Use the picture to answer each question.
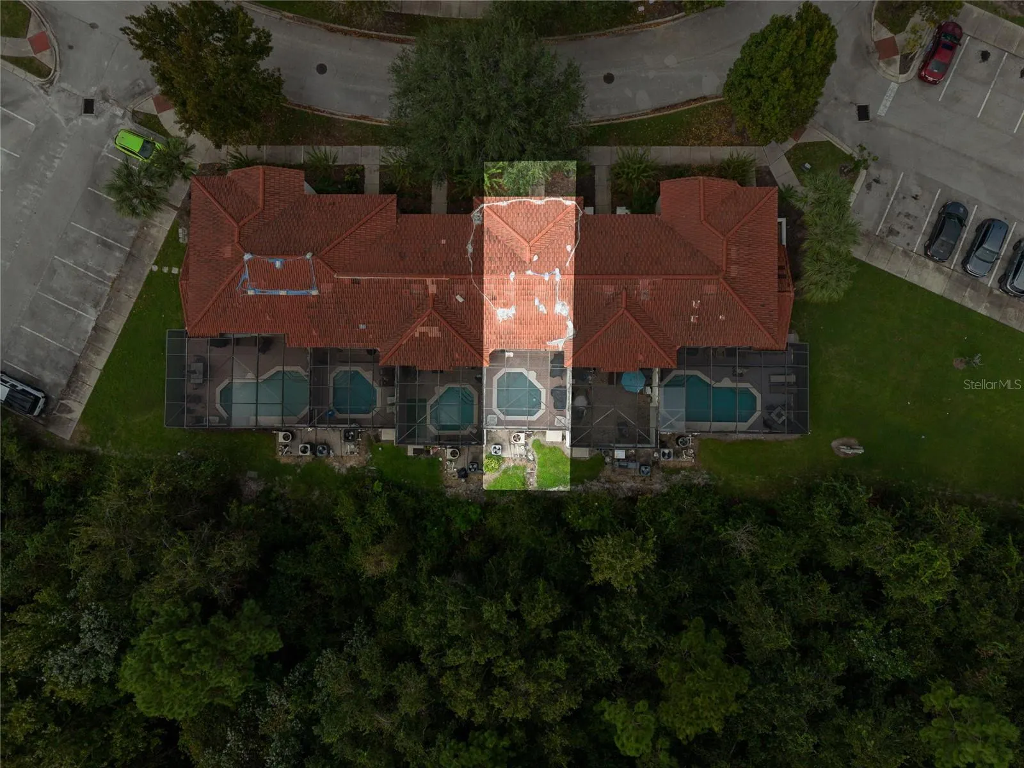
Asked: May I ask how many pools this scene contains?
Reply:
5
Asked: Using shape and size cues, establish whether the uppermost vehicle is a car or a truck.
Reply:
car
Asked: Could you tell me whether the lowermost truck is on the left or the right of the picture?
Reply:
left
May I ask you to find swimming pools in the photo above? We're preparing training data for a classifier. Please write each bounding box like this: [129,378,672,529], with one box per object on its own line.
[661,371,762,427]
[427,384,479,435]
[330,367,380,418]
[215,366,310,420]
[493,368,545,421]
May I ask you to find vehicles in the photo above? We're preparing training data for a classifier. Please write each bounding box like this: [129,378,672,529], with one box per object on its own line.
[915,19,965,88]
[112,127,175,173]
[0,364,56,419]
[998,237,1024,303]
[960,214,1012,280]
[921,198,969,265]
